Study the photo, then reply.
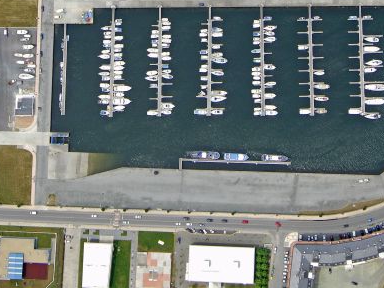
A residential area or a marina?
marina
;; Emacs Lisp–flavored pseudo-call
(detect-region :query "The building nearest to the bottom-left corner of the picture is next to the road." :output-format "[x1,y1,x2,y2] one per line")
[0,236,52,281]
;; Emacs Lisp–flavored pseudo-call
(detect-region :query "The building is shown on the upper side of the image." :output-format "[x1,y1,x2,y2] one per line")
[15,95,35,116]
